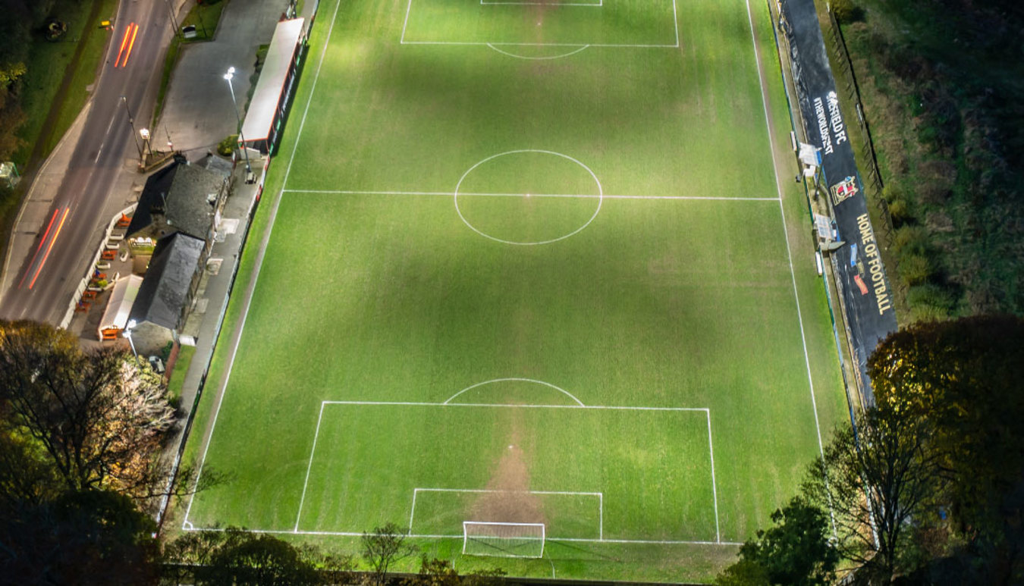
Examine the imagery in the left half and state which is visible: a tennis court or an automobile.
automobile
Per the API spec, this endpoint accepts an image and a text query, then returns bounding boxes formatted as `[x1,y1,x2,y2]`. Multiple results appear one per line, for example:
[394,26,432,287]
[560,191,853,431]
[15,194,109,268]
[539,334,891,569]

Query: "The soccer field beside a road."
[144,0,878,586]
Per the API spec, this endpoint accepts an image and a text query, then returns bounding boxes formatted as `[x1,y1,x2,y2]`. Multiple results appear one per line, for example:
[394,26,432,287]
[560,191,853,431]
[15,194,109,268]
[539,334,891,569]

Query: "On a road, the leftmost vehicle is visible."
[36,223,61,248]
